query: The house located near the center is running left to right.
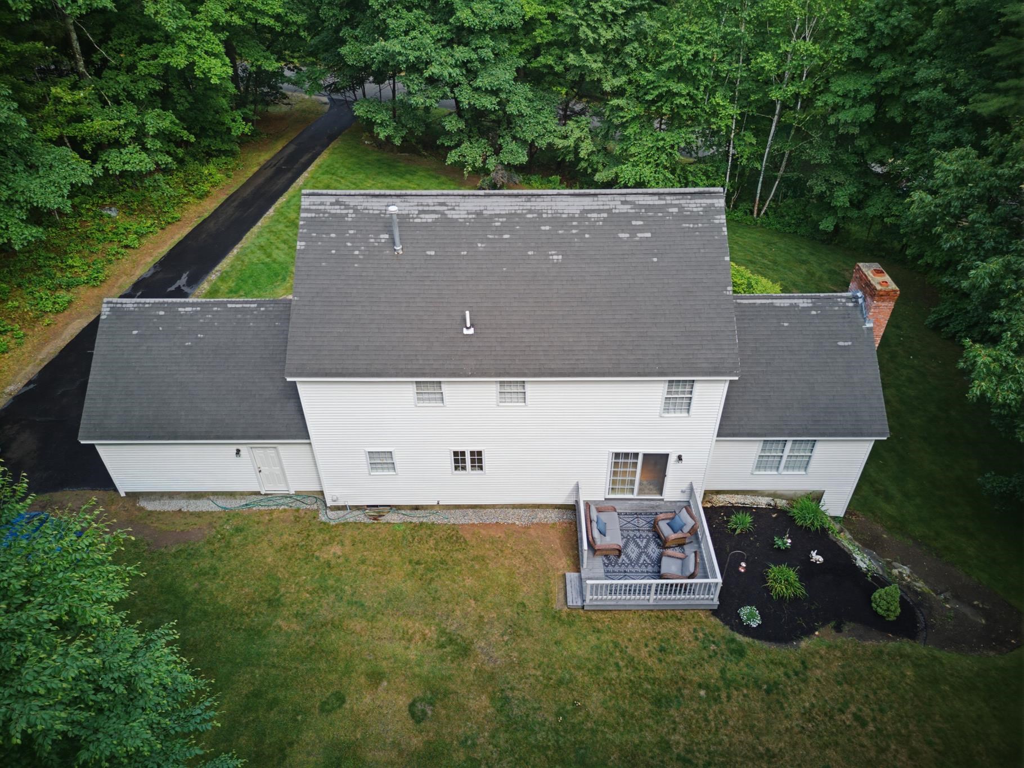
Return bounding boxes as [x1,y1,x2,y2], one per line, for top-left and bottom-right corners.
[78,185,900,515]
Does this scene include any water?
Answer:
No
